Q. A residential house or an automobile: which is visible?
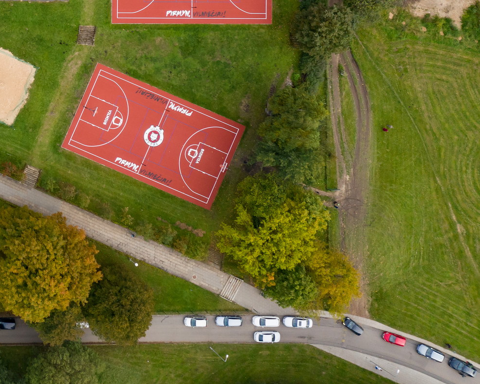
automobile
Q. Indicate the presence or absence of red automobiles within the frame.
Yes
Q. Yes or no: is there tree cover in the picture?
Yes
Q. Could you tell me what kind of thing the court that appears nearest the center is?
basketball court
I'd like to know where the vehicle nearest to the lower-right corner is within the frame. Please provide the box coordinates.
[447,356,480,380]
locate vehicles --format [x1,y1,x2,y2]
[0,318,15,329]
[184,316,209,329]
[282,316,313,329]
[341,318,367,338]
[251,315,281,329]
[254,331,281,345]
[447,356,480,380]
[380,329,410,350]
[415,343,448,366]
[215,315,244,329]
